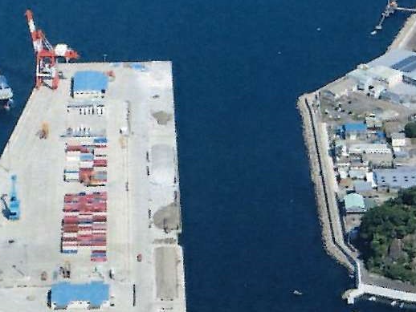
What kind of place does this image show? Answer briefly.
port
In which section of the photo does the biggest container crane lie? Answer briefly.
top left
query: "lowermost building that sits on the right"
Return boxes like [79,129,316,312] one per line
[345,190,366,214]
